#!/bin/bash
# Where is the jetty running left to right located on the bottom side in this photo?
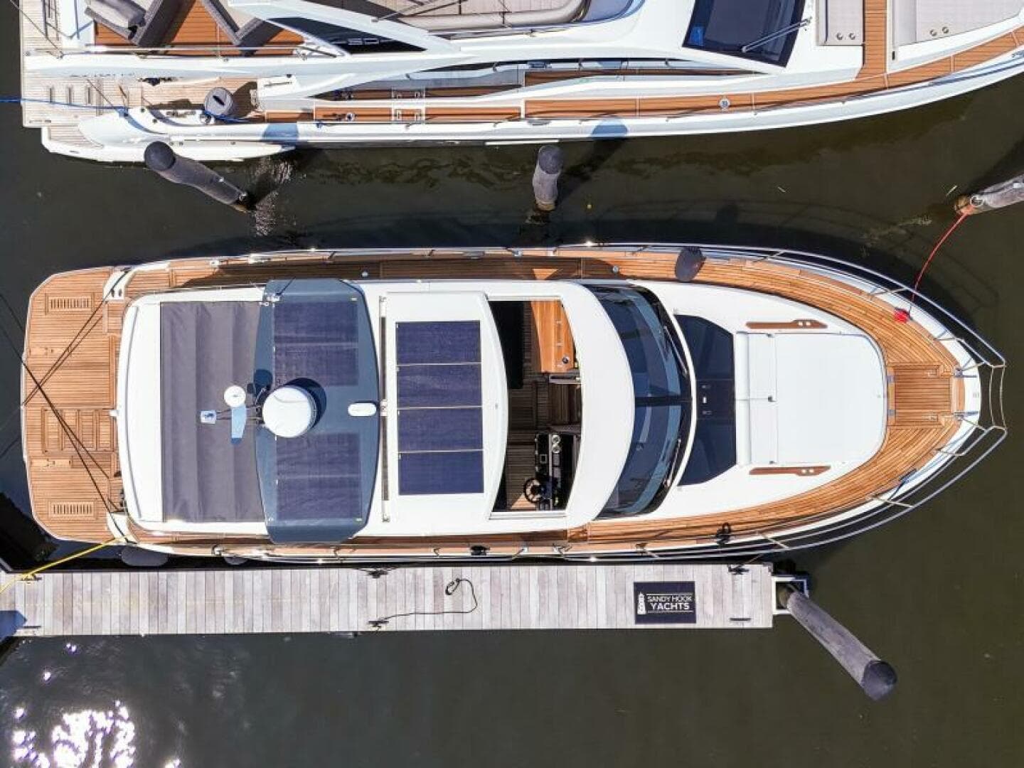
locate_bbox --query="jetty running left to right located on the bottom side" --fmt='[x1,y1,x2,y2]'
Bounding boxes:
[0,489,810,651]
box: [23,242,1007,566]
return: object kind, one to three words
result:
boat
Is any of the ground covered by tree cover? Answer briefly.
No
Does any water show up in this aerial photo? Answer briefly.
Yes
